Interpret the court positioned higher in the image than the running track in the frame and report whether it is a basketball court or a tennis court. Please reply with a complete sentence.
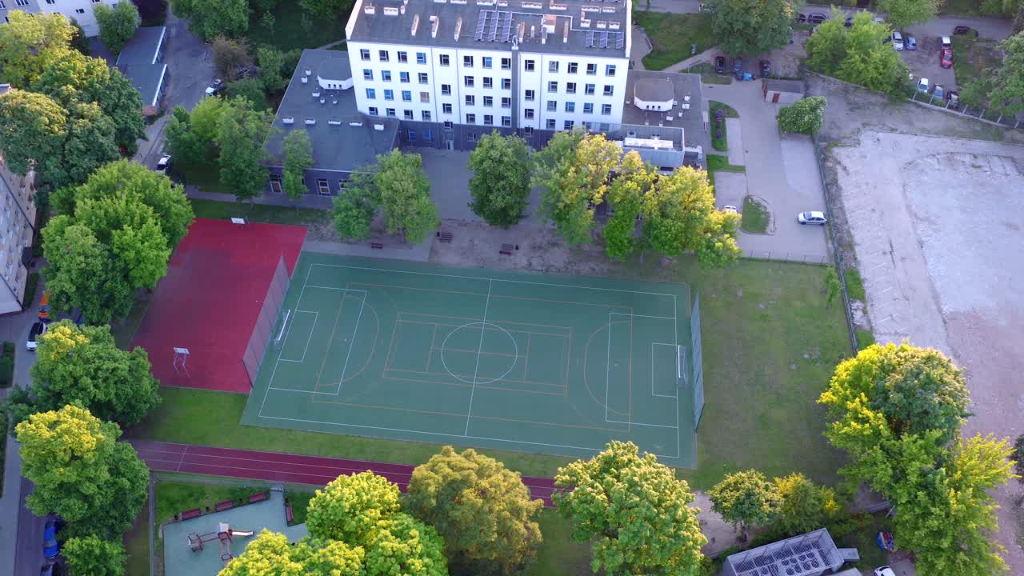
It turns out the court positioned higher in the image than the running track is a basketball court.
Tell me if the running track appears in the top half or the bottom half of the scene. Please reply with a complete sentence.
The bottom half of the photo is where the running track is.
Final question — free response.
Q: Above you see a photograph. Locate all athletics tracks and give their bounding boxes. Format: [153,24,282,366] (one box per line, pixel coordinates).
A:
[120,439,624,514]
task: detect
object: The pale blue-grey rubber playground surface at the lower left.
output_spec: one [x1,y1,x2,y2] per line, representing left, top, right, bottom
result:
[163,485,362,576]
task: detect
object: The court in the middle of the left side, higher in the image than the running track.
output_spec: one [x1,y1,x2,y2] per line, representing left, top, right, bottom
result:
[136,218,309,393]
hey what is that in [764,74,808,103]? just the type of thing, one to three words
shed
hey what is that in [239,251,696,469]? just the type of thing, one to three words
sports field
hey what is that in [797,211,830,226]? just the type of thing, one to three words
car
